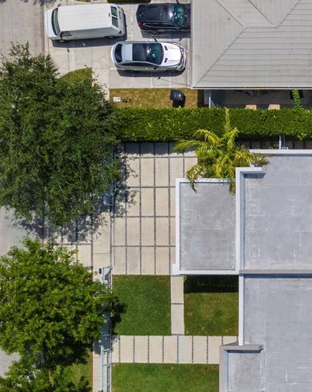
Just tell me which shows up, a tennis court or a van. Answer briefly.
van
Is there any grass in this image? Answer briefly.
Yes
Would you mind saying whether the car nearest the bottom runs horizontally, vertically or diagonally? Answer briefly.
horizontally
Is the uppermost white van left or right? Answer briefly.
left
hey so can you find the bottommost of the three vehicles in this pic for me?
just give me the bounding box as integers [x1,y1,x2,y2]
[114,39,188,76]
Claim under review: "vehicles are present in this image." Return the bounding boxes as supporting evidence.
[114,39,188,76]
[48,2,130,43]
[141,1,190,38]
